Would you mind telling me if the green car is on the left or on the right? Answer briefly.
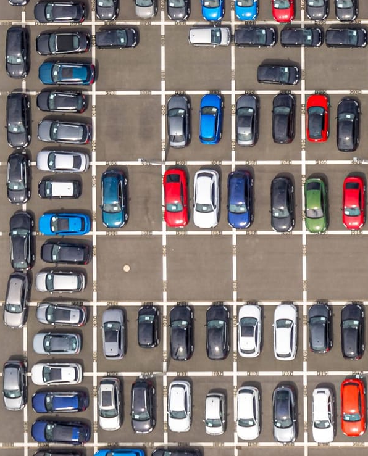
right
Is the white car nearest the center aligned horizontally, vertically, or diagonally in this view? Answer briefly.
vertically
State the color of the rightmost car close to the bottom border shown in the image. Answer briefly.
red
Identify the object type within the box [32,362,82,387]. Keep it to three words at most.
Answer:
car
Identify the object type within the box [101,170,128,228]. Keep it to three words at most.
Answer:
car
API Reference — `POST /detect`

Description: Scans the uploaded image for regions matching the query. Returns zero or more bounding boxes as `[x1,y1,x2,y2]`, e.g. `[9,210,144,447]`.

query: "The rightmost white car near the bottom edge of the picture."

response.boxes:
[309,387,336,442]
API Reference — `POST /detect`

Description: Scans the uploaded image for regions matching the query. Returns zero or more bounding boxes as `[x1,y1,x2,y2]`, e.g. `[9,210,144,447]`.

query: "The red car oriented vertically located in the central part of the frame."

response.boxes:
[162,169,189,228]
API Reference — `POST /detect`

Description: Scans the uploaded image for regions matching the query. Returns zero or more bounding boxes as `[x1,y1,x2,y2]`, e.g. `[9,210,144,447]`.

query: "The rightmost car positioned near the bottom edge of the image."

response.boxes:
[339,377,366,436]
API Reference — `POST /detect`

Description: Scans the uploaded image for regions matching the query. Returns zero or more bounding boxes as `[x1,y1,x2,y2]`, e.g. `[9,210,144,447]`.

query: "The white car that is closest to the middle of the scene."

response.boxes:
[192,170,219,228]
